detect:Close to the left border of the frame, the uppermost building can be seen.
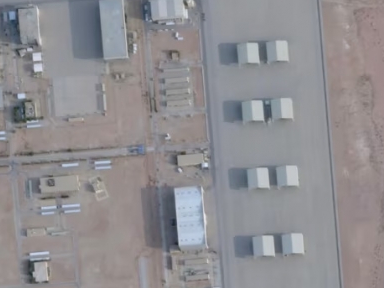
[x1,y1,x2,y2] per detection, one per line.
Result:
[19,8,41,46]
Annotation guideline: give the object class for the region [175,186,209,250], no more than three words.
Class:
hangar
